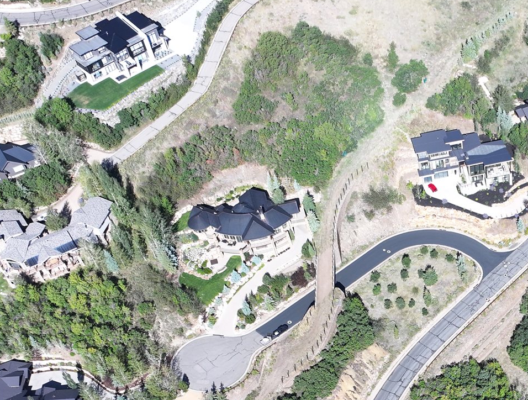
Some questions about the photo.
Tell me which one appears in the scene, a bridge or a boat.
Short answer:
bridge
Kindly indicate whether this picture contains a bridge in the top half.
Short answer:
No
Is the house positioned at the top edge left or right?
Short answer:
left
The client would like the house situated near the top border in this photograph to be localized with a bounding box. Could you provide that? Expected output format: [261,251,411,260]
[69,11,167,84]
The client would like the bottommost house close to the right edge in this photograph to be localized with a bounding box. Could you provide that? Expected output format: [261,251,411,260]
[411,128,515,199]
